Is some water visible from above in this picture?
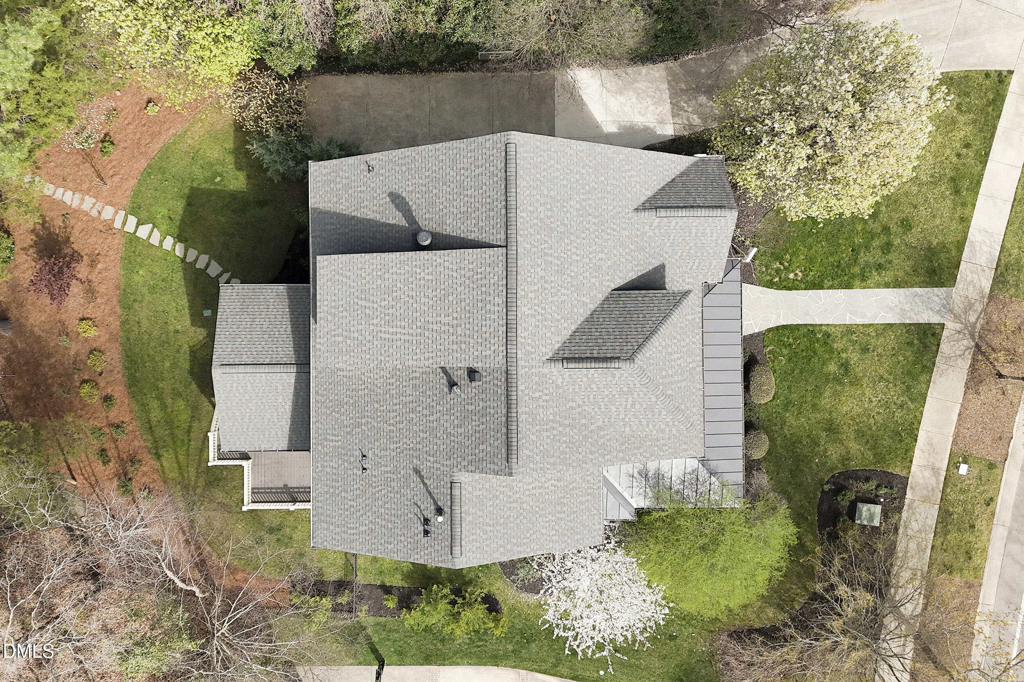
No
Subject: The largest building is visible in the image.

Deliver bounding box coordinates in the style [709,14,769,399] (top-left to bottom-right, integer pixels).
[212,130,757,573]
